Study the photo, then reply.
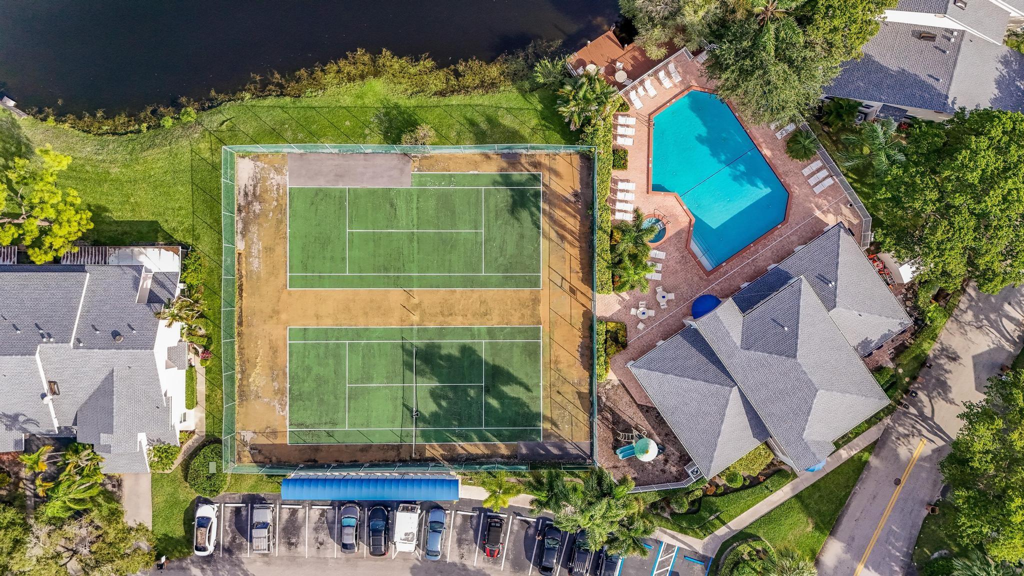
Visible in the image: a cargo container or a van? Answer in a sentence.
There is a van in the scene.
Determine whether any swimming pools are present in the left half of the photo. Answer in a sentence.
No, no swimming pool appears in the left half of the photo.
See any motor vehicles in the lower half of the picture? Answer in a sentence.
Yes, you'll find a motor vehicle in the lower half of the picture.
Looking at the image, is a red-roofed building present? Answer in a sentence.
No, I find no red-roofed building anywhere in the image.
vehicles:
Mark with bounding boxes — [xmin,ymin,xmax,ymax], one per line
[391,502,420,551]
[337,501,362,553]
[249,502,277,554]
[481,515,505,557]
[536,521,562,576]
[565,530,592,576]
[424,506,448,560]
[365,504,390,557]
[192,500,219,555]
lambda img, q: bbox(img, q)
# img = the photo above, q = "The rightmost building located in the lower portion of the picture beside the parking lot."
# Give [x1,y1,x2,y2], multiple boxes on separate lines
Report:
[622,221,913,479]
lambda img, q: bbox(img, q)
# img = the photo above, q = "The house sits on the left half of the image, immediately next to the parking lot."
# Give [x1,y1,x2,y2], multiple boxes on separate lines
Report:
[0,246,194,473]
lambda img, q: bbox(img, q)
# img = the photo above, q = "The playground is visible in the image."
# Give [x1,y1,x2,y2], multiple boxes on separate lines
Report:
[595,374,707,492]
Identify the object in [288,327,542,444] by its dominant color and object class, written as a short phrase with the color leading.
green tennis court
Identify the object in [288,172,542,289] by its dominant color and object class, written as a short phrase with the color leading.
green tennis court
